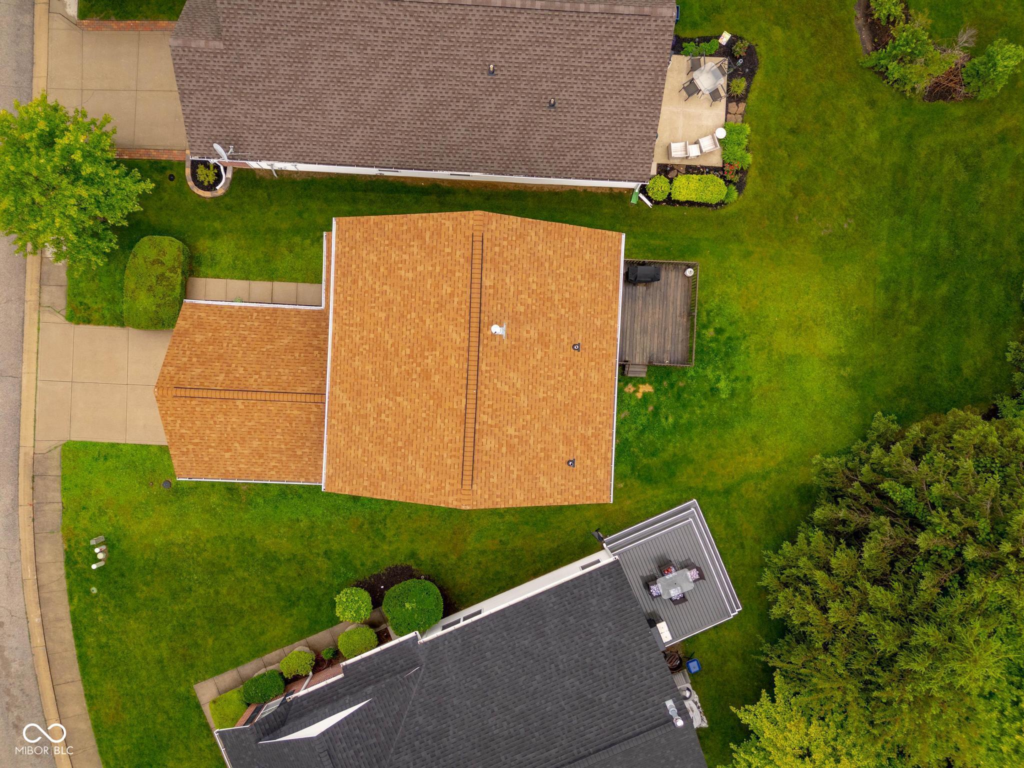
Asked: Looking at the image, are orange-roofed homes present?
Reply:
Yes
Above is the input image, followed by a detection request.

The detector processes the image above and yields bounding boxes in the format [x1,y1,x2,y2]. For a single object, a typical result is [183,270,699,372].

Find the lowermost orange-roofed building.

[156,210,626,509]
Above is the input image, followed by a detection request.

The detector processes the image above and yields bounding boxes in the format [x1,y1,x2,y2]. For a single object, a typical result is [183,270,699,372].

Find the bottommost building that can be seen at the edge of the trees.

[212,535,712,768]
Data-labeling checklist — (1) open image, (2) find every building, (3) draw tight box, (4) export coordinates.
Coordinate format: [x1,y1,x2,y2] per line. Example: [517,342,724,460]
[169,0,675,201]
[156,210,626,509]
[212,535,712,768]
